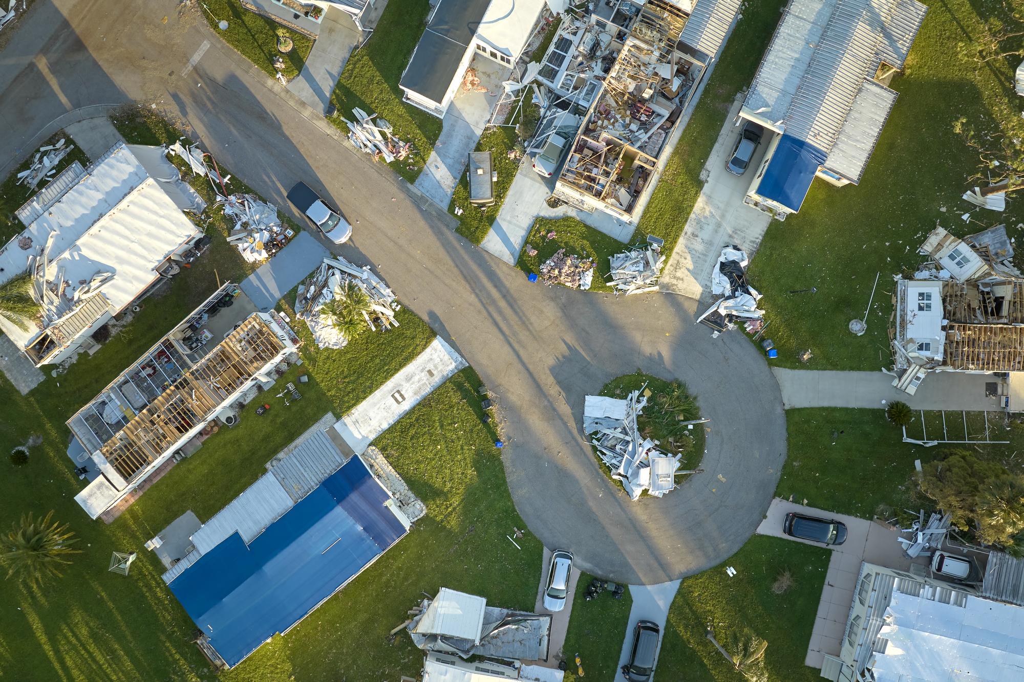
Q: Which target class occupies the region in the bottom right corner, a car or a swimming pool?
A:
car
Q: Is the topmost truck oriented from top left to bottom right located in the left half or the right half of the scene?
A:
left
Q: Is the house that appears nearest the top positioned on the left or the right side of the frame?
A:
left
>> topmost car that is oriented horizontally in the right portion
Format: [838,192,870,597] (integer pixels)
[783,514,852,552]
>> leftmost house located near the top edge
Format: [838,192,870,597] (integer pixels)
[306,0,373,32]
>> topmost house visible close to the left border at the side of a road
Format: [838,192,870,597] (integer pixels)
[0,143,215,367]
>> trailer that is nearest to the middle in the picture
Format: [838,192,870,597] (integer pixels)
[467,146,497,214]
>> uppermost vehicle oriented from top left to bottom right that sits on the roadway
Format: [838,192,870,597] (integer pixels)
[281,178,359,247]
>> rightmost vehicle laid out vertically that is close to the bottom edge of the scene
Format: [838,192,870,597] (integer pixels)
[625,618,660,682]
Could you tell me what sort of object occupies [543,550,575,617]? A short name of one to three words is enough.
car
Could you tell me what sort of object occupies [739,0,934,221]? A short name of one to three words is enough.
house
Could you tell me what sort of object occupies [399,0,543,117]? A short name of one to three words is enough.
house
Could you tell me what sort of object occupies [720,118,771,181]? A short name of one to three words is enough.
car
